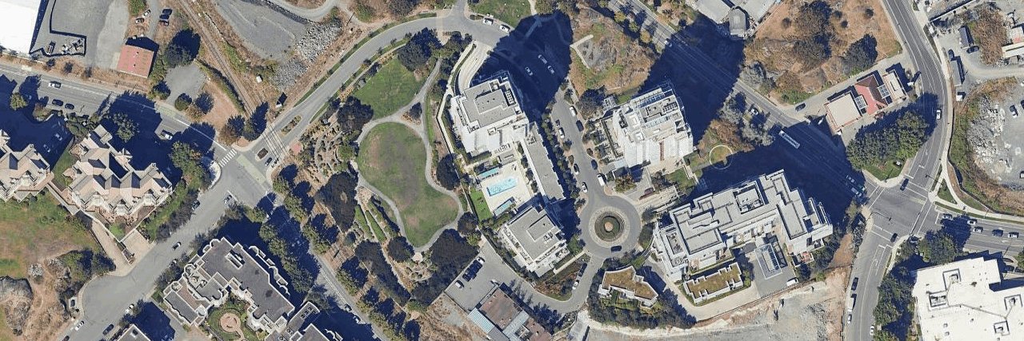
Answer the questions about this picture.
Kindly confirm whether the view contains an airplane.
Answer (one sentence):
No, I can't see a single airplane in this photo.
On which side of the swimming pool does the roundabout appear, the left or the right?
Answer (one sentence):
The roundabout appears to the right of the swimming pool in this view.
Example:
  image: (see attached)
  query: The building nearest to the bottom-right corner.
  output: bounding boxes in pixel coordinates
[912,257,1024,341]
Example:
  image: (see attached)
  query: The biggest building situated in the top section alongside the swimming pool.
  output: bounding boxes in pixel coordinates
[451,74,529,160]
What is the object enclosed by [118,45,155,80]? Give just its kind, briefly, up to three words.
shed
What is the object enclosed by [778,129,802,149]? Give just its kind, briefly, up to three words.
bus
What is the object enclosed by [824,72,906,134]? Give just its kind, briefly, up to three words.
building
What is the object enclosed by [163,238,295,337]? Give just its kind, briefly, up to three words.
building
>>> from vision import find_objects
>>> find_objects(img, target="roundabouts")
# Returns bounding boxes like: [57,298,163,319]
[576,194,642,258]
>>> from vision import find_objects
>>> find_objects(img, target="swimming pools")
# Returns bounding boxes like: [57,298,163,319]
[480,161,533,215]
